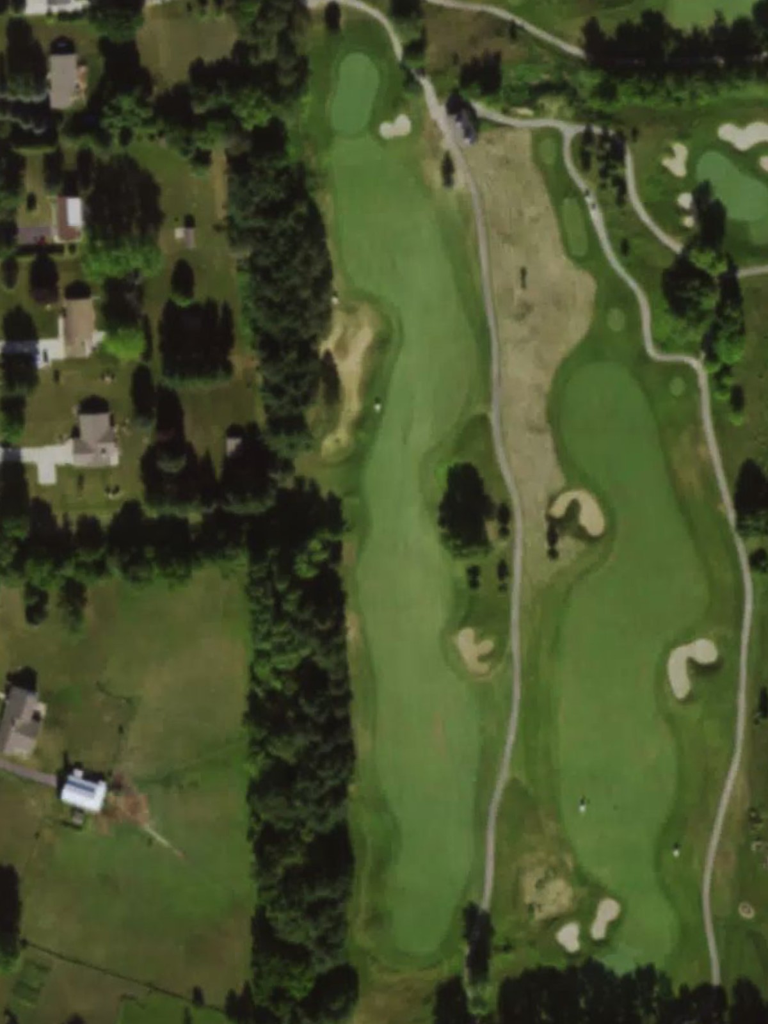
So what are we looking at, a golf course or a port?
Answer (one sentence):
The area seen from above is a golf course.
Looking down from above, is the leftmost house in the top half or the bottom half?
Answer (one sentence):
The leftmost house is in the bottom half of the image.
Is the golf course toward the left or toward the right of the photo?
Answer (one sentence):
You can find the golf course on the right side of the picture.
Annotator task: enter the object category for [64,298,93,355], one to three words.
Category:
house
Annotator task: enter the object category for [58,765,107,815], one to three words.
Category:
barn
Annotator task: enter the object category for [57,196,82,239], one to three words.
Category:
house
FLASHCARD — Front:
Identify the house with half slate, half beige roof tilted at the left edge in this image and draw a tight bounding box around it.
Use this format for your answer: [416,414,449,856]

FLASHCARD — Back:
[0,689,50,759]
